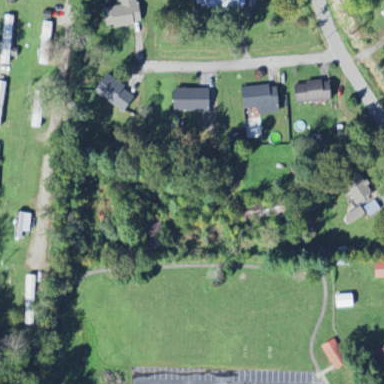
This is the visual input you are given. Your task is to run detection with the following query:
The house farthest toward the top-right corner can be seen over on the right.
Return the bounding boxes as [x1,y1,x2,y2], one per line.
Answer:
[294,79,332,102]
